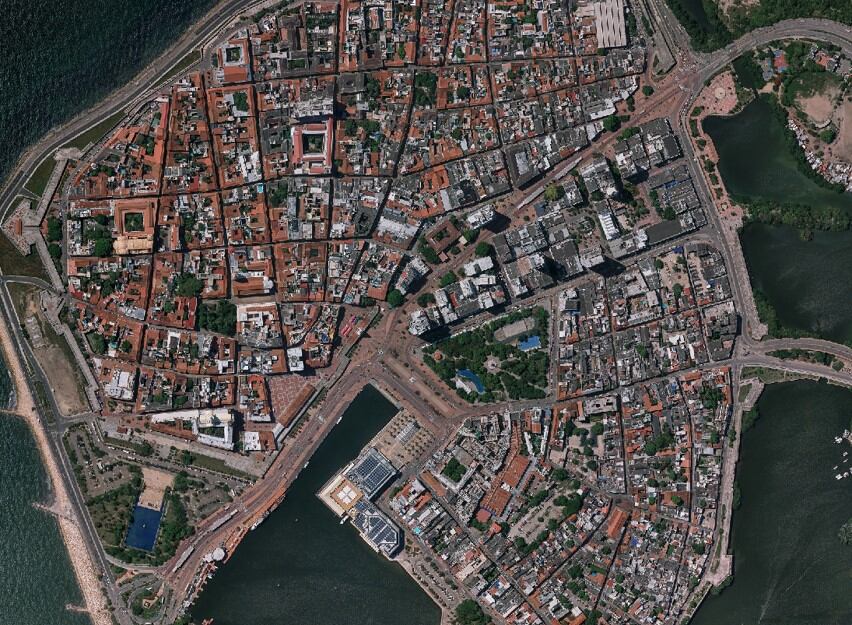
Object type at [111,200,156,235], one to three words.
building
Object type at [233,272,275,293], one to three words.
building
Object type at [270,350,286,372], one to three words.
house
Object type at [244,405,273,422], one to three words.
house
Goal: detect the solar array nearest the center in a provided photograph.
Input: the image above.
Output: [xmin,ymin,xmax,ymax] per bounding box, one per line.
[355,456,391,489]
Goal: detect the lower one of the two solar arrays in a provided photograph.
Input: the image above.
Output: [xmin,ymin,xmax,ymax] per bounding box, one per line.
[355,507,395,543]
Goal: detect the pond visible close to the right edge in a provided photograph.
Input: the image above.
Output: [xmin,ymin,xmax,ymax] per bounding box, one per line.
[685,0,852,393]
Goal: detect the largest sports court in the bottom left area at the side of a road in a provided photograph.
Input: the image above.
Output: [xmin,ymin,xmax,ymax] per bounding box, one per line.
[138,470,172,510]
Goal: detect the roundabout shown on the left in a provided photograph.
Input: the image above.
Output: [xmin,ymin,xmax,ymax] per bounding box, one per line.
[132,583,162,620]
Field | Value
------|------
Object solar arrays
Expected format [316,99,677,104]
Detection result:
[355,456,391,489]
[355,507,395,543]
